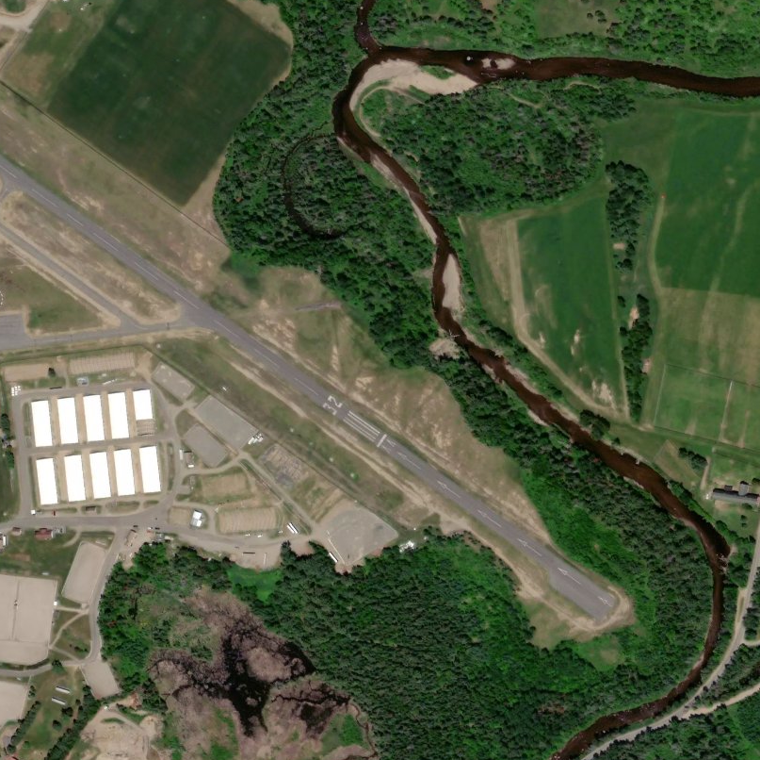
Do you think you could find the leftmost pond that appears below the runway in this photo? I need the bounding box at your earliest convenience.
[173,623,376,760]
